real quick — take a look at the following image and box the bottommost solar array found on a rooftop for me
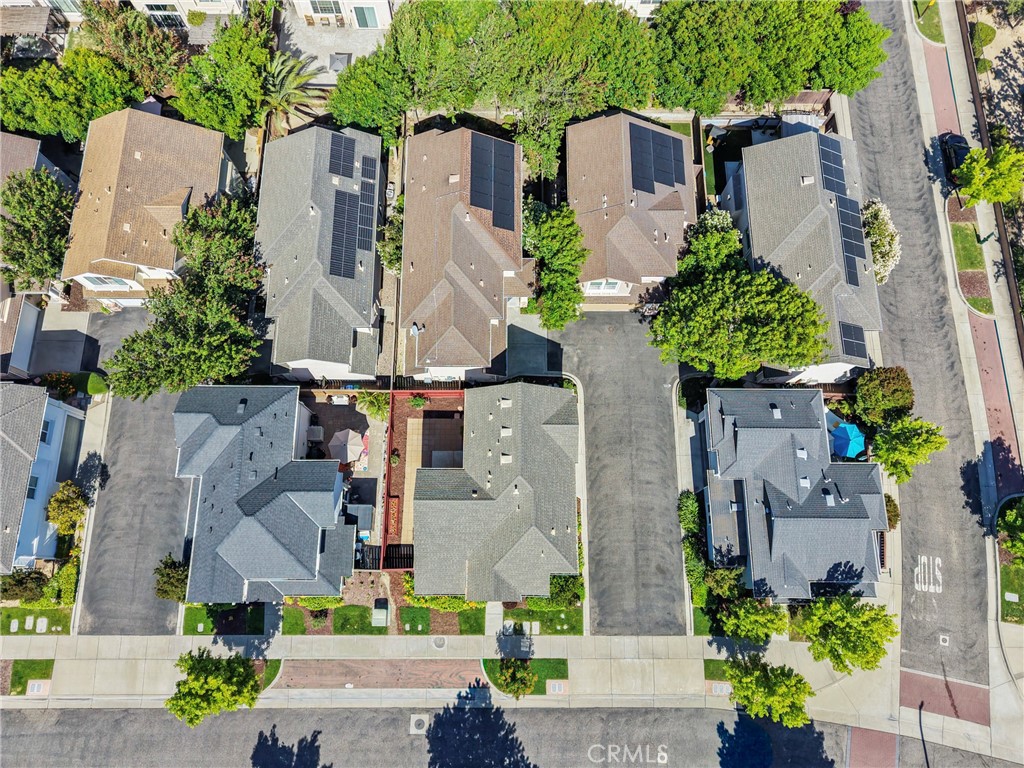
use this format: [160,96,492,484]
[841,322,868,358]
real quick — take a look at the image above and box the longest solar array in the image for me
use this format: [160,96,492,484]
[820,133,867,286]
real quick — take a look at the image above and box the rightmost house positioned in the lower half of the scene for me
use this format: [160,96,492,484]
[697,388,888,605]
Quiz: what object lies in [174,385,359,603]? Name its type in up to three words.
house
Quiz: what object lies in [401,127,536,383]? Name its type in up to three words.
house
